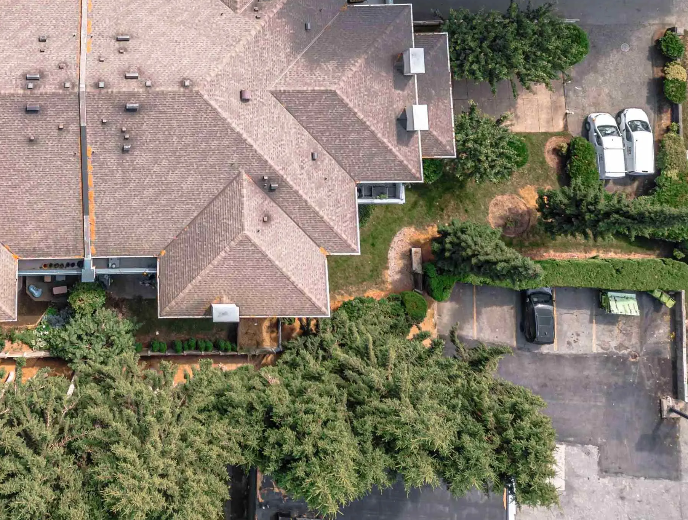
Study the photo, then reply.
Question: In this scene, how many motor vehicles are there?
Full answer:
In total, there are 3 motor vehicles in the scene.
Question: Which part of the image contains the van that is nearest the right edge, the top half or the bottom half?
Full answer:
It is in the top half that the van that is nearest the right edge appears.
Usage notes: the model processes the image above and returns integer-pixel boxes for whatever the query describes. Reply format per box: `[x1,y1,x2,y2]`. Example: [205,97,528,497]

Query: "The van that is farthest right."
[616,109,656,175]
